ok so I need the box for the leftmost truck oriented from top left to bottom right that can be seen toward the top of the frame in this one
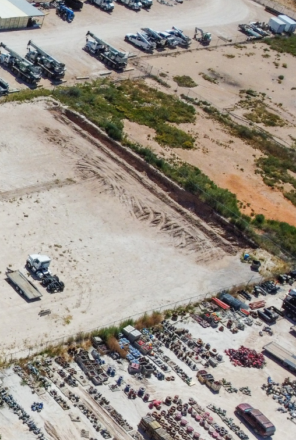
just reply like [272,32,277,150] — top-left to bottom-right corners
[0,43,47,86]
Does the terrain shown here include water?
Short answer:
No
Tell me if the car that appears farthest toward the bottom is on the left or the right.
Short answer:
right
